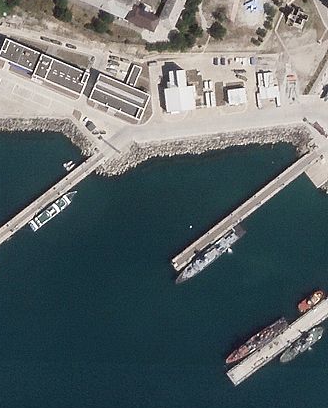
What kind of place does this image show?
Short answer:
port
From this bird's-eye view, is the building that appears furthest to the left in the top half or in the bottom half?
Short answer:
top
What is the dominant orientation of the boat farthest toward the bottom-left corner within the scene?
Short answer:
on a diagonal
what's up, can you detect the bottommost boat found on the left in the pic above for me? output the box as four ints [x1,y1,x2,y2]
[29,191,77,231]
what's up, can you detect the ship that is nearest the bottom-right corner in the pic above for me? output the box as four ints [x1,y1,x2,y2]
[280,326,326,360]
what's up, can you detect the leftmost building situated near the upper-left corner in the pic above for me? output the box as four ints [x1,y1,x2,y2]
[0,37,41,73]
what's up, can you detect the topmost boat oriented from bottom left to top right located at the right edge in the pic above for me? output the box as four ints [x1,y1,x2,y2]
[298,292,325,313]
